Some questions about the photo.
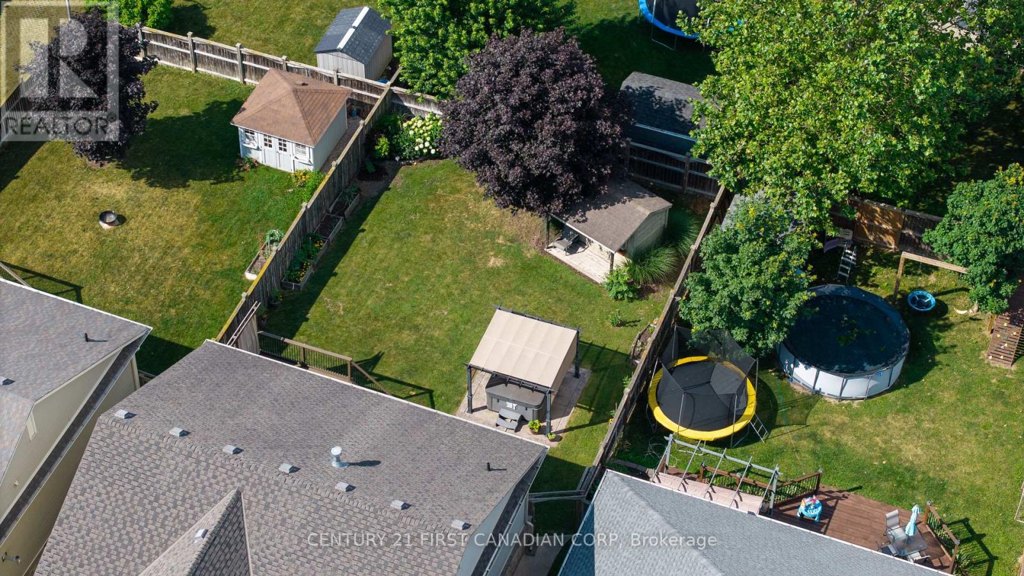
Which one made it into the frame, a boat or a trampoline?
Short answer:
trampoline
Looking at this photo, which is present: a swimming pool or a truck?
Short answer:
swimming pool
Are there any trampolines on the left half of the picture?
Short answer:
No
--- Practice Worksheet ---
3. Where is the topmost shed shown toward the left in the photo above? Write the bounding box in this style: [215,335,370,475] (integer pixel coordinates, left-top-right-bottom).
[313,6,394,81]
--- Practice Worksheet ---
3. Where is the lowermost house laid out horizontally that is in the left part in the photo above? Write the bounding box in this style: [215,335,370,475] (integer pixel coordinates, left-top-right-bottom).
[30,339,552,576]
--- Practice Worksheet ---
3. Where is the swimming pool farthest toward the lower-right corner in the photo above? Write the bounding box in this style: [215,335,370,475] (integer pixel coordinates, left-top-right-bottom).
[773,286,910,408]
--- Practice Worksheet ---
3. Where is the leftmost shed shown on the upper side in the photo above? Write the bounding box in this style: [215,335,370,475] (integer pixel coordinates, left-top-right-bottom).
[229,69,353,176]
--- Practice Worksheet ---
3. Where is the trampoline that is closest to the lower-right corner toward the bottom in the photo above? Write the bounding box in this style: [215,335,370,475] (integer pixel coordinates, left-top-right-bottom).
[644,325,761,450]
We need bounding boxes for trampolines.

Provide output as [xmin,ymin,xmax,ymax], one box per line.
[644,325,761,450]
[638,0,726,51]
